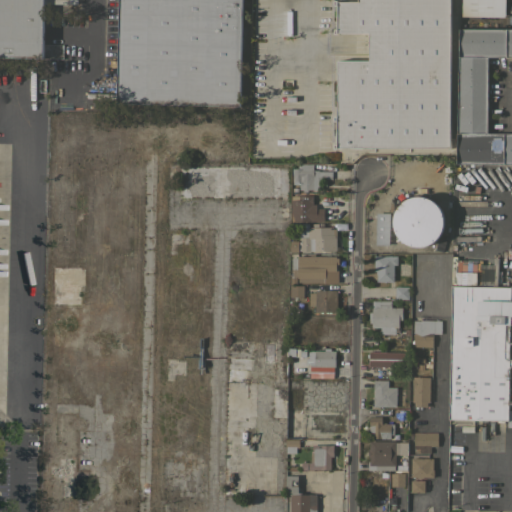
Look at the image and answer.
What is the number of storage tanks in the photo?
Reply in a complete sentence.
The picture shows just 1 storage tank.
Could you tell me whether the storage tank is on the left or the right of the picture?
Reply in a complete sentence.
You can find the storage tank on the right side of the picture.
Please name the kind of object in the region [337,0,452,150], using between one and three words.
warehouse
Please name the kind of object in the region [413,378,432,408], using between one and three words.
building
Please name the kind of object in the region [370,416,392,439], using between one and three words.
house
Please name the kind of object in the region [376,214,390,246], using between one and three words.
shed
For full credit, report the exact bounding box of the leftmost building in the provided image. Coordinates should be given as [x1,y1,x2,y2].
[0,0,45,59]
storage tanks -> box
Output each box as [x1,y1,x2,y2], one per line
[390,197,444,248]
